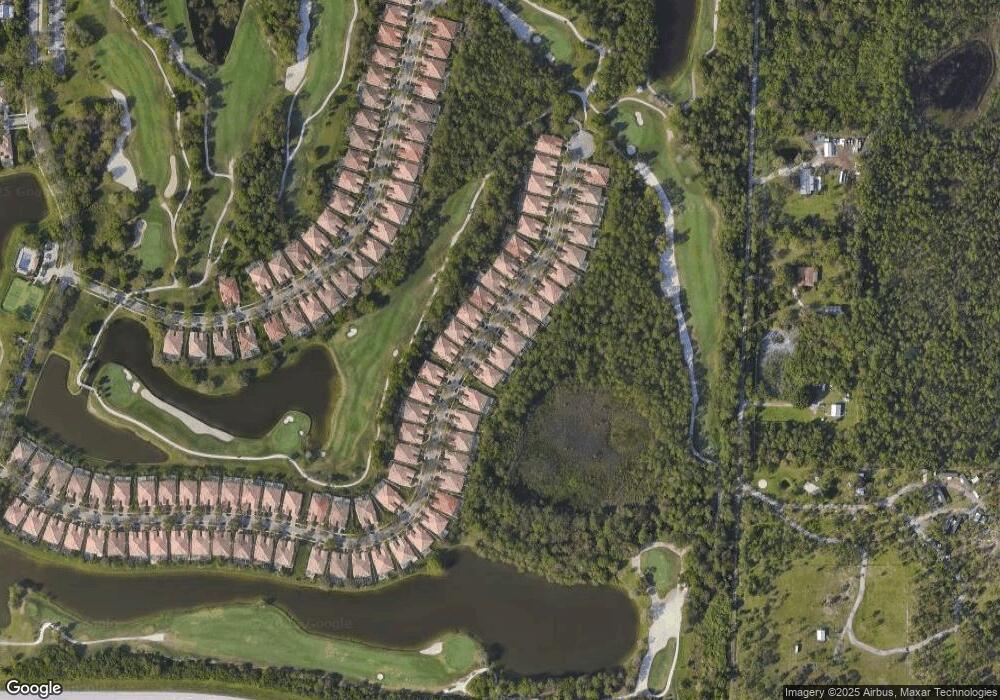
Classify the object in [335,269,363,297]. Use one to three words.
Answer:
house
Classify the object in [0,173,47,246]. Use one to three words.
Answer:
pond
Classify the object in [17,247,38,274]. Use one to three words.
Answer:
swimming pool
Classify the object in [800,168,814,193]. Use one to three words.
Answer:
barn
